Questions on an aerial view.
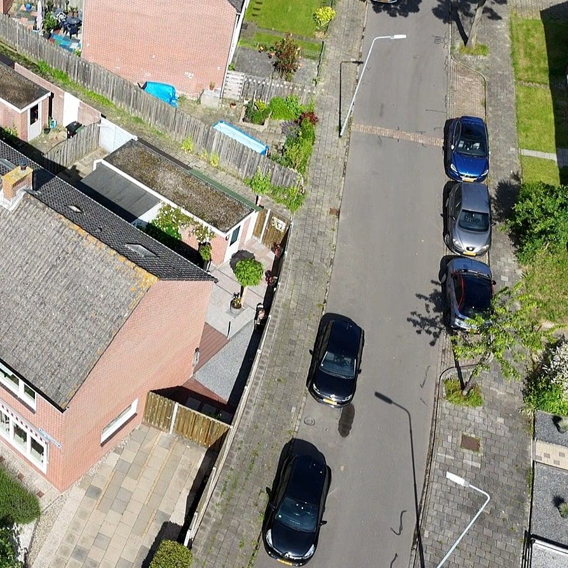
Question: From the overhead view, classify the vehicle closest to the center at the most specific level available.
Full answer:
The vehicle closest to the center in the image is a car.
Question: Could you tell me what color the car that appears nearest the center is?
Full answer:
The car that appears nearest the center is black.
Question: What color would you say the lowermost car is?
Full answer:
The lowermost car is black.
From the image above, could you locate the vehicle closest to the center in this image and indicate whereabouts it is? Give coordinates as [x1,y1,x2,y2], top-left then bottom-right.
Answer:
[306,313,368,408]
